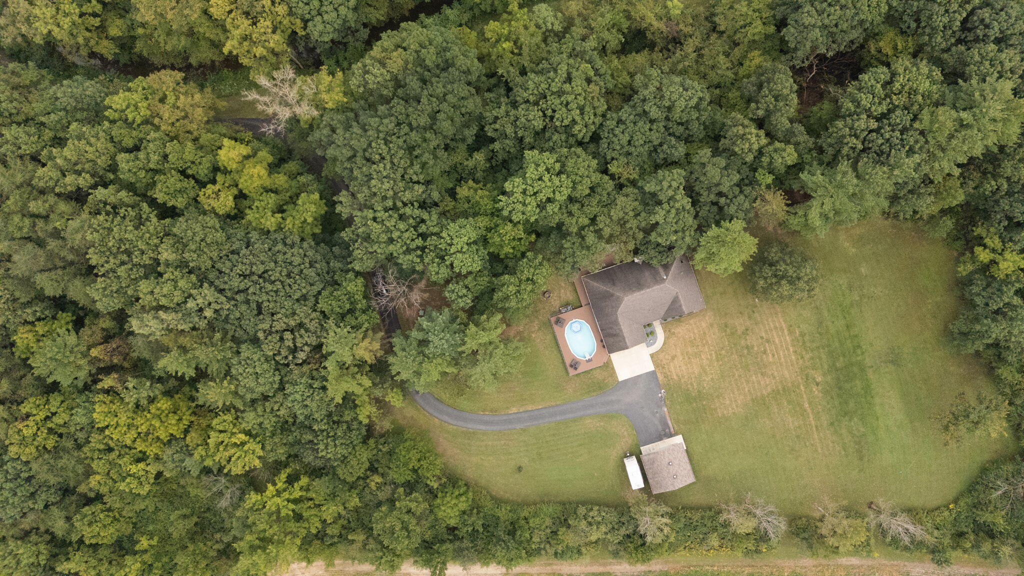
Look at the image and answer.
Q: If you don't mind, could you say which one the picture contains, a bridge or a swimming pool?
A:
swimming pool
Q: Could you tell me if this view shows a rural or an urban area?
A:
rural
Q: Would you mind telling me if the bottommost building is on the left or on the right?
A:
right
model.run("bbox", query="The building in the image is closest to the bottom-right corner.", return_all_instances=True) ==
[640,442,696,495]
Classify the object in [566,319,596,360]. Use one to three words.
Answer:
swimming pool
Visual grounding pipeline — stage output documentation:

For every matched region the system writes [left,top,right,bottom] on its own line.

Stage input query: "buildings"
[640,442,696,495]
[582,247,706,356]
